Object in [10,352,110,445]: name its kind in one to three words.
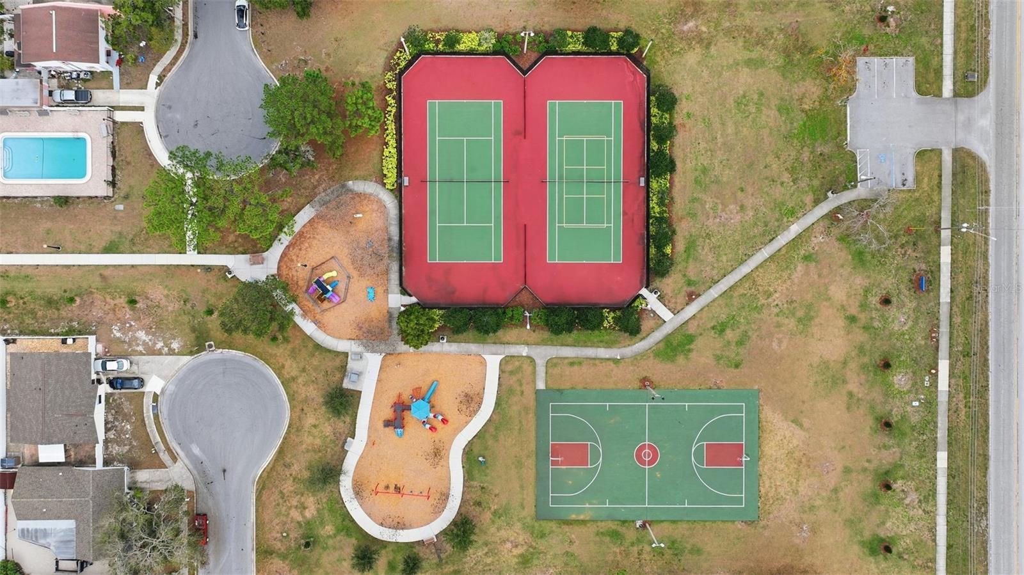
house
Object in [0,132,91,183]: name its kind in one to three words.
swimming pool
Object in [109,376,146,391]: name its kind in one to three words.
car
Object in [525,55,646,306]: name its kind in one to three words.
tennis court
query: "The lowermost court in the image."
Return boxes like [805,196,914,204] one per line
[536,388,759,520]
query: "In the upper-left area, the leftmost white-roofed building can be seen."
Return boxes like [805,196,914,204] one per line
[0,79,49,110]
